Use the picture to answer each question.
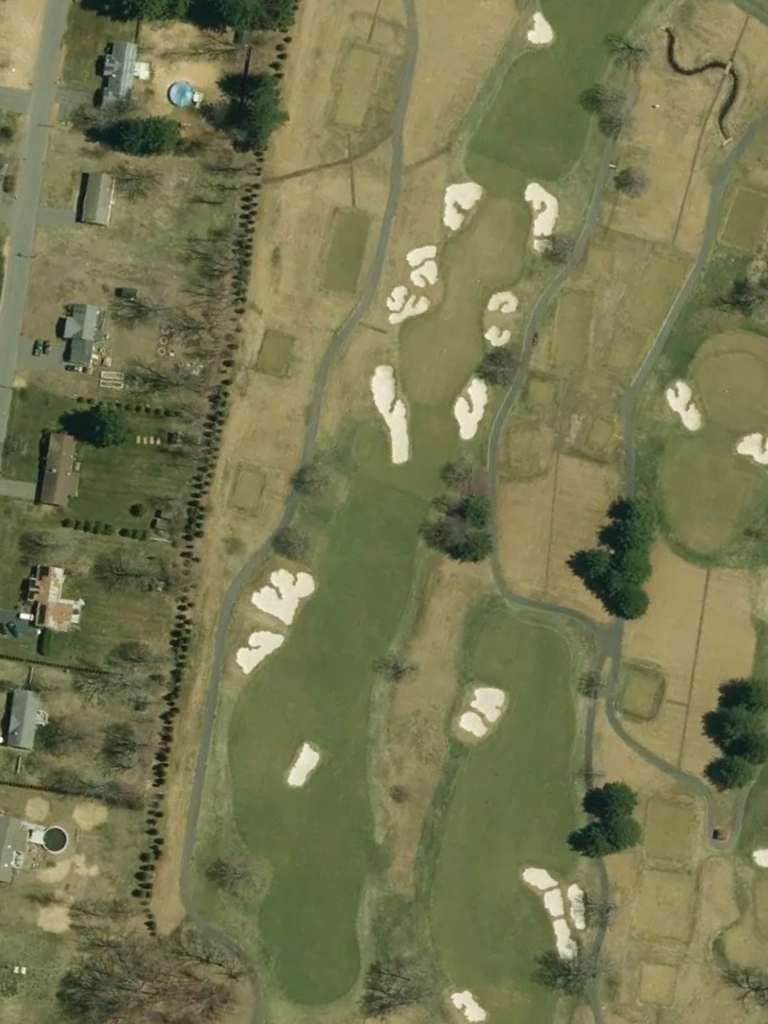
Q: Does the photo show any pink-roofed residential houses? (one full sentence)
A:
No, no pink-roofed residential house is visible in the scene.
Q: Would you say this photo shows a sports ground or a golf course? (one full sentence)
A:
The area seen from above is a golf course.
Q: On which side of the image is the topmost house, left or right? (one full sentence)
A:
The topmost house sits on the left side.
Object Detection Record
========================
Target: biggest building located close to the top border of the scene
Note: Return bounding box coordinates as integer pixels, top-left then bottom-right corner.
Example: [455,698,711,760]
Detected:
[95,39,150,106]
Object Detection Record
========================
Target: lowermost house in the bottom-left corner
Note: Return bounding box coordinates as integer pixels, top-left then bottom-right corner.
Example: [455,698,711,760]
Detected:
[0,814,46,884]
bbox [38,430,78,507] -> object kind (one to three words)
house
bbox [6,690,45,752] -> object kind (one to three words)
house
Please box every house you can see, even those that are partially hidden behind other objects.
[34,561,85,631]
[60,302,110,366]
[81,172,114,227]
[0,814,46,884]
[6,690,45,752]
[38,430,78,507]
[95,39,150,106]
